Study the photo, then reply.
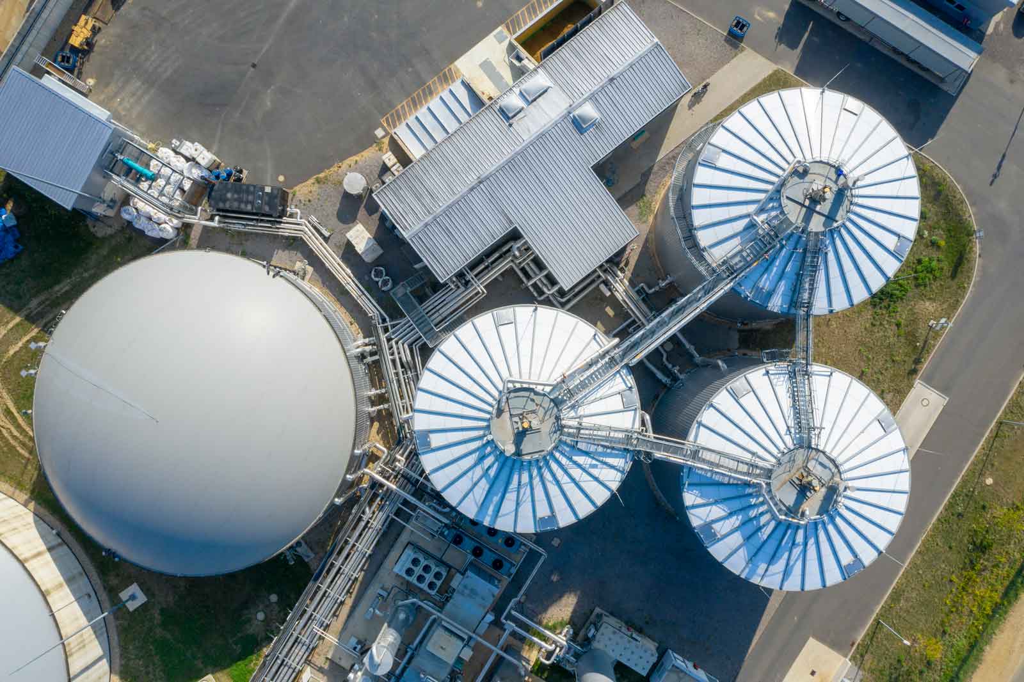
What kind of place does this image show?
industrial area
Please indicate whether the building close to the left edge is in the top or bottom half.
top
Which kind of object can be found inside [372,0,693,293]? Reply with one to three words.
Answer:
building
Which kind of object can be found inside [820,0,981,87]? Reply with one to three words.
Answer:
trailer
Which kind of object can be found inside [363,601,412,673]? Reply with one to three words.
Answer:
storage tank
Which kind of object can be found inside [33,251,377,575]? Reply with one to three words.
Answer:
storage tank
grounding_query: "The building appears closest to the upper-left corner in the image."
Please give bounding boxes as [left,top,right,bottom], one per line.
[0,65,149,216]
